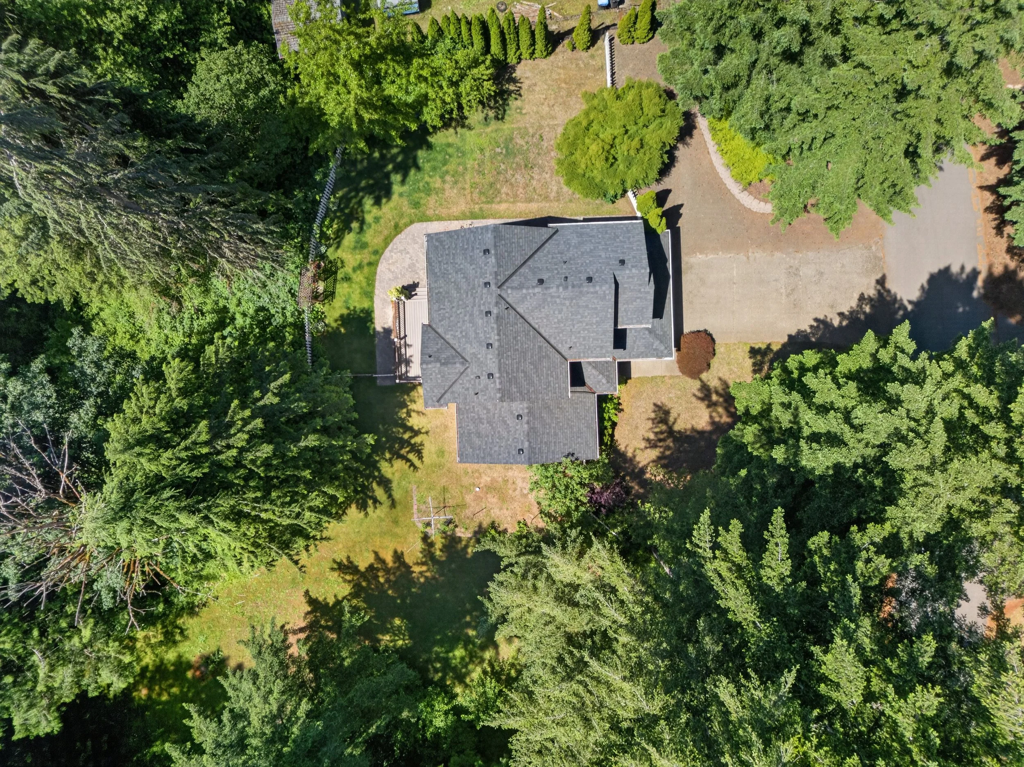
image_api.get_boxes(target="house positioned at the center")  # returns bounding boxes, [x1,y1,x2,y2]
[421,219,675,464]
